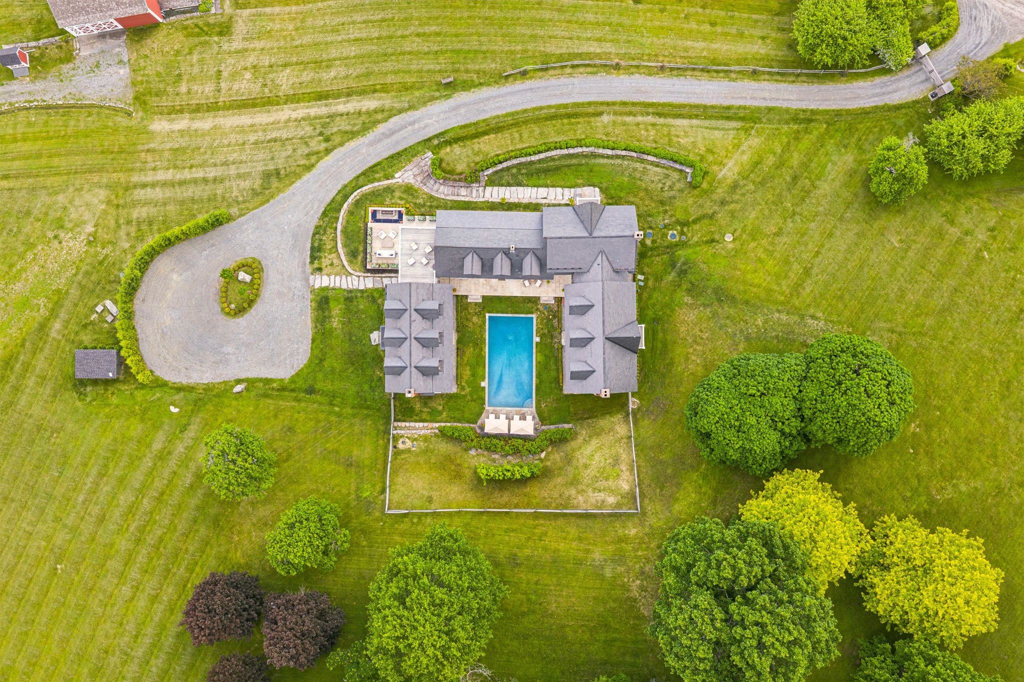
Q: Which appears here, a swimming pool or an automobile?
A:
swimming pool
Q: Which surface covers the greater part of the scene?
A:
grass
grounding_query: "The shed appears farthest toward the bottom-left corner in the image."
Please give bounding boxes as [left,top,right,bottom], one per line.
[74,350,128,378]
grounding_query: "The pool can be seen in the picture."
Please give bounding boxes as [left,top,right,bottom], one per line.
[481,314,540,409]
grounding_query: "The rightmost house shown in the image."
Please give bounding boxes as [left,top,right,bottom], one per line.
[434,197,645,398]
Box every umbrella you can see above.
[485,419,508,433]
[510,421,534,435]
